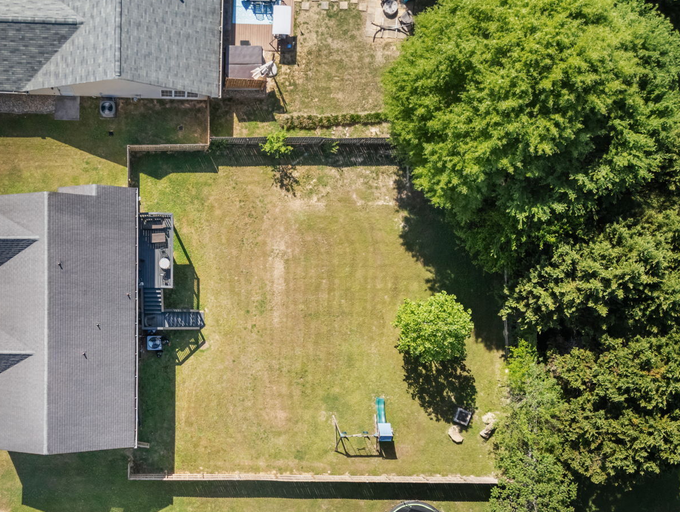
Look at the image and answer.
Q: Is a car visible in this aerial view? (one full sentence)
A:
No, no car is visible in the scene.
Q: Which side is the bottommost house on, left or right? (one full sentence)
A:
It is on the left.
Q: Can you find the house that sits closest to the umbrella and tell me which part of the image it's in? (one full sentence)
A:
Look in the top left portion of the view to spot the house that sits closest to the umbrella.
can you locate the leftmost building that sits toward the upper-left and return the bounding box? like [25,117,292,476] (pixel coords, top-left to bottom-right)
[0,0,226,106]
